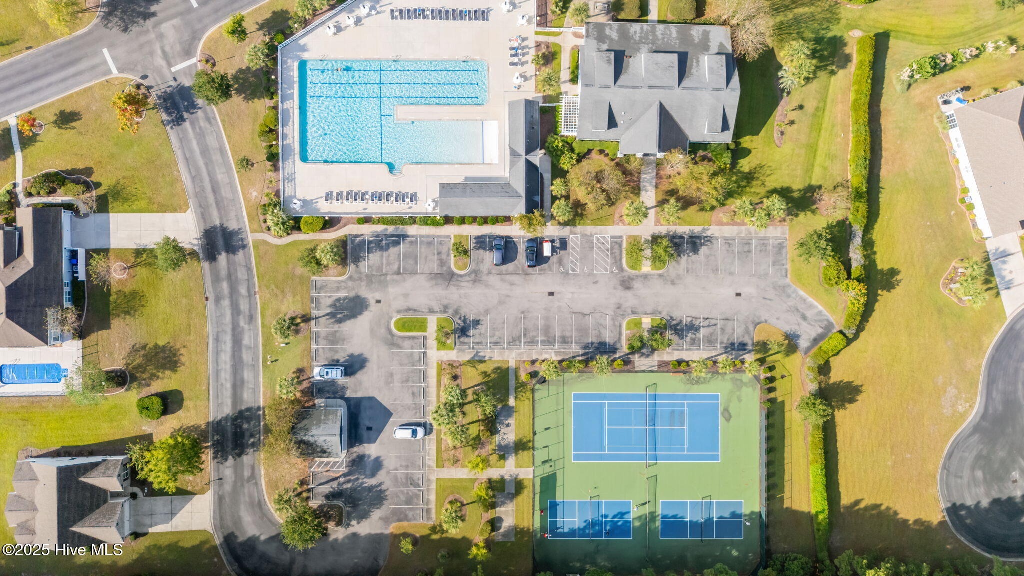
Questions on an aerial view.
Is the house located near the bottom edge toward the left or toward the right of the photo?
left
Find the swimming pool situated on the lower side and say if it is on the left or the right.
left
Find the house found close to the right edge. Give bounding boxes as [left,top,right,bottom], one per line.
[948,86,1024,237]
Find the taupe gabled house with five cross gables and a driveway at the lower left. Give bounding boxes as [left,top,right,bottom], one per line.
[5,450,133,555]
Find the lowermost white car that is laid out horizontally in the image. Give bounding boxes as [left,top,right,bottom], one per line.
[393,427,424,442]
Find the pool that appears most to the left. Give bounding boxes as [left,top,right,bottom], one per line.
[0,359,68,384]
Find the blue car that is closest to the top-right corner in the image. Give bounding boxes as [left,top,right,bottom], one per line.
[524,239,538,268]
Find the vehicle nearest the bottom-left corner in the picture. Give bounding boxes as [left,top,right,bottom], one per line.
[312,367,343,382]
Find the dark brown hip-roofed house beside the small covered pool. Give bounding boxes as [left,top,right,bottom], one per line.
[0,207,75,347]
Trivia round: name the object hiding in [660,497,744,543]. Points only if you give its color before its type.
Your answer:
blue sports court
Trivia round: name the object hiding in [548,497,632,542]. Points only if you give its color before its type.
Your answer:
blue sports court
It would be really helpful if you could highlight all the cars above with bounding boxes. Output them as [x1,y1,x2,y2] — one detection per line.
[393,427,424,442]
[524,239,538,268]
[492,238,506,266]
[312,367,343,382]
